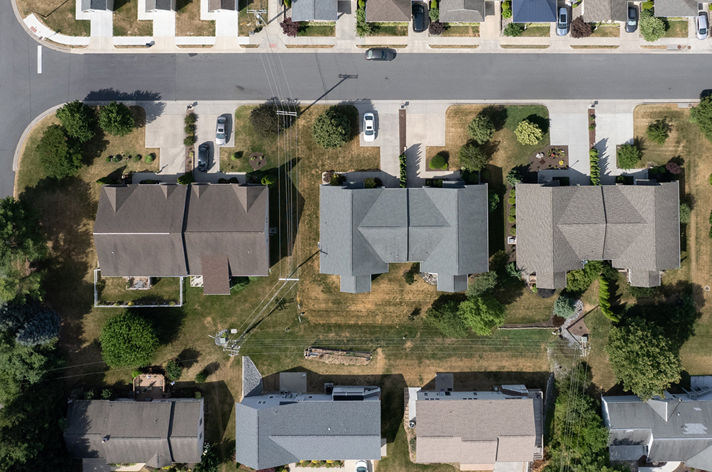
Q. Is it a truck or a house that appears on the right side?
house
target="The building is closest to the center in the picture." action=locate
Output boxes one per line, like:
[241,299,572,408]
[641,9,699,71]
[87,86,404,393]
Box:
[319,178,488,294]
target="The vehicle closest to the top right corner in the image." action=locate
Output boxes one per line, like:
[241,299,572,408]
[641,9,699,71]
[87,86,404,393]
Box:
[694,13,709,39]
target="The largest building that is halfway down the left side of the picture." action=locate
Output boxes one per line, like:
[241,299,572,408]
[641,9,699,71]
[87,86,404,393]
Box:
[95,184,269,295]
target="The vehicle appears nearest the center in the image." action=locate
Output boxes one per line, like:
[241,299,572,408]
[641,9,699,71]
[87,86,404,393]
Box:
[362,111,377,142]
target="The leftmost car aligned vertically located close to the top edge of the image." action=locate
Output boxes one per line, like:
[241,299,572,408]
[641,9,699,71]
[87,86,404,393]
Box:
[413,2,426,33]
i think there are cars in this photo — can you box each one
[362,111,377,142]
[624,5,639,33]
[694,13,709,39]
[555,5,568,37]
[365,47,395,62]
[413,2,426,33]
[214,114,229,145]
[354,461,368,472]
[197,142,211,173]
